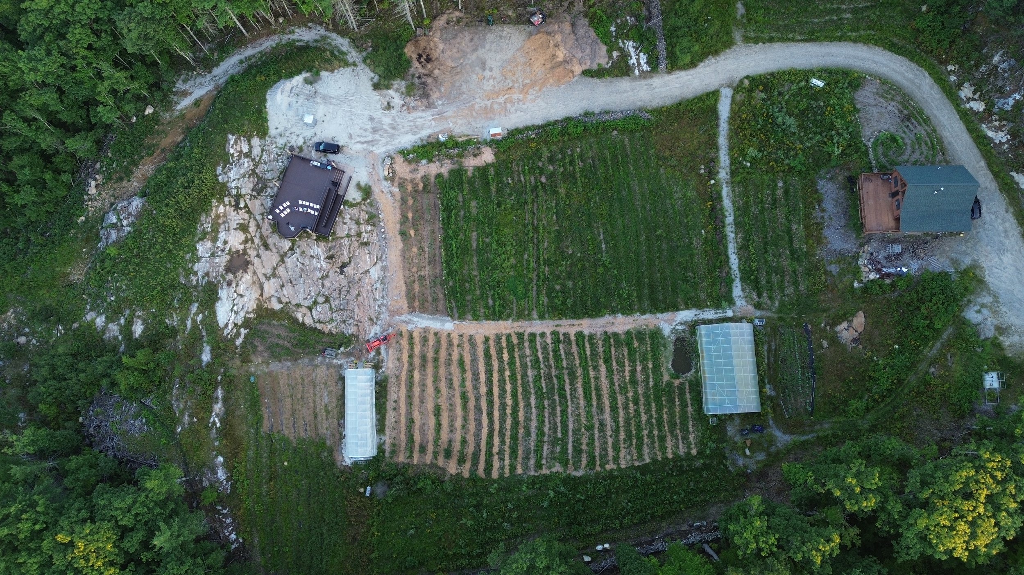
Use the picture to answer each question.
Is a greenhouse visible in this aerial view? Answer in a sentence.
Yes, the frame does contain a greenhouse.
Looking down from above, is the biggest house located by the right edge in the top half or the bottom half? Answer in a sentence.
It is in the top half that the biggest house located by the right edge appears.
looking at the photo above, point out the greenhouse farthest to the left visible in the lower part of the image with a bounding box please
[343,368,378,477]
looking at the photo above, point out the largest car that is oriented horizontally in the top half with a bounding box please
[313,140,340,154]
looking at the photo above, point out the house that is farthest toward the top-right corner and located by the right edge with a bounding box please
[856,165,979,234]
